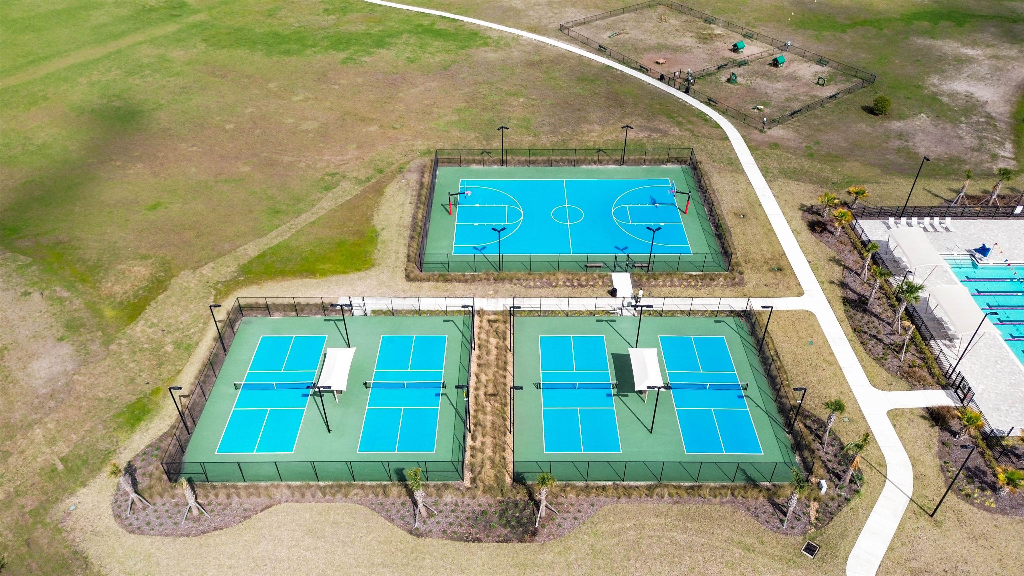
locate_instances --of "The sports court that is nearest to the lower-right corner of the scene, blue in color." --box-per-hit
[659,335,763,453]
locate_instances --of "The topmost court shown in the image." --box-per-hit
[421,166,729,273]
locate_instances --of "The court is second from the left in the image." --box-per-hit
[357,335,447,453]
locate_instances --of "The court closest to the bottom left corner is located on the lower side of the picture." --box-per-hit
[215,335,327,453]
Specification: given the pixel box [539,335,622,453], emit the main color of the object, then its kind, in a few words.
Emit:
blue sports court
